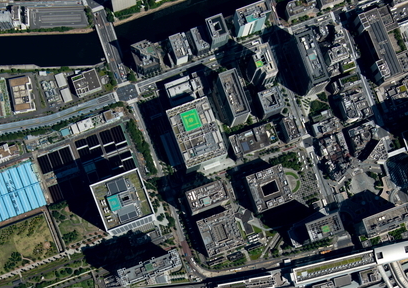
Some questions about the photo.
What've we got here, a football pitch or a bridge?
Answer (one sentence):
Visible in the photo is a bridge.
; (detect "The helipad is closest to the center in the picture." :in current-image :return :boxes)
[180,108,203,132]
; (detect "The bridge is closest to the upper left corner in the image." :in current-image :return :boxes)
[92,2,134,96]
